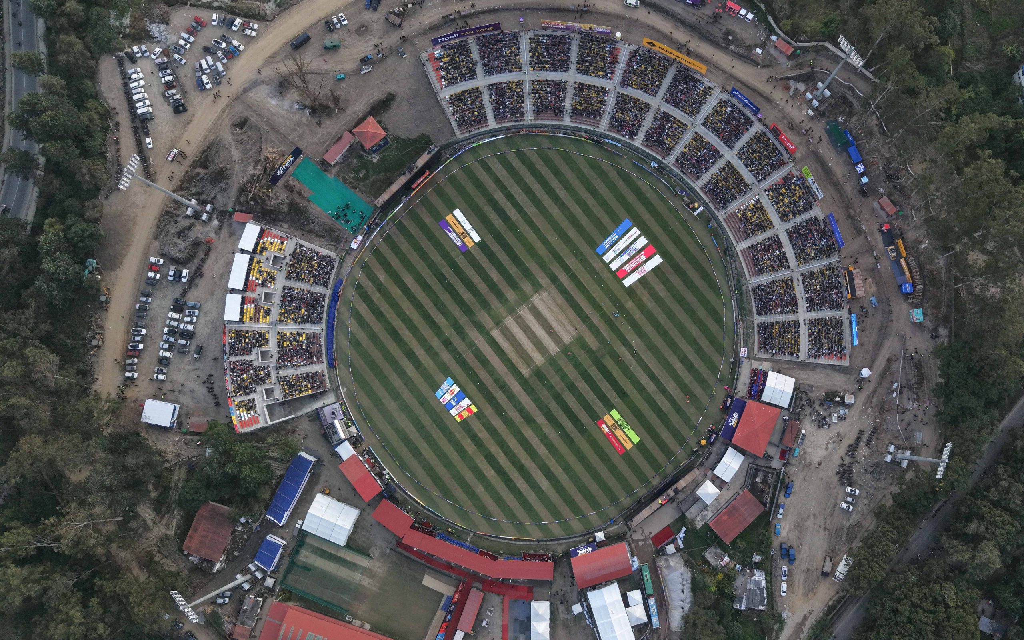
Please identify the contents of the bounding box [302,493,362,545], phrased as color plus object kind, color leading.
white tent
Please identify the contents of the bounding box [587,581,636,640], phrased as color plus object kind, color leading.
white tent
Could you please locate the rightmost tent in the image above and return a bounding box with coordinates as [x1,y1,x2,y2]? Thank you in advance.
[761,371,795,409]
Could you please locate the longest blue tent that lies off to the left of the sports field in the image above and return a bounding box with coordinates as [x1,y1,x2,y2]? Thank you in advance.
[265,454,317,526]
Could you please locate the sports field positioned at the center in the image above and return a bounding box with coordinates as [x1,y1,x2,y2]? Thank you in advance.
[335,134,735,539]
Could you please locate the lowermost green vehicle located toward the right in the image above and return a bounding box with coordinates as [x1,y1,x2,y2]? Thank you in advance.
[640,562,653,595]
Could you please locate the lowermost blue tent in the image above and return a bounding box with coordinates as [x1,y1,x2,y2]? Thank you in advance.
[254,536,286,571]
